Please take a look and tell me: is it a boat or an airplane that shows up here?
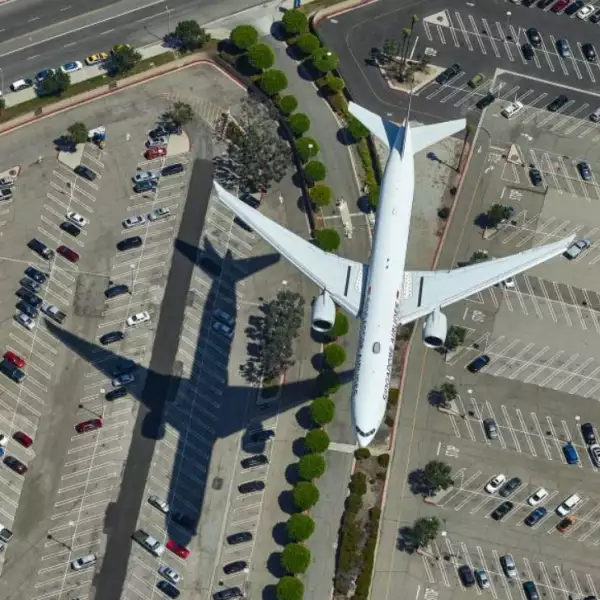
airplane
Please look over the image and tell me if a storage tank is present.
No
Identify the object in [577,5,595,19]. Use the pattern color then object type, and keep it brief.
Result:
white car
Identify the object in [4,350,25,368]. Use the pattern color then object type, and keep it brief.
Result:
red car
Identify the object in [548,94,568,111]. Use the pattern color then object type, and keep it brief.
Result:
black car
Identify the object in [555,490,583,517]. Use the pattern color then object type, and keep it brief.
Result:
white vehicle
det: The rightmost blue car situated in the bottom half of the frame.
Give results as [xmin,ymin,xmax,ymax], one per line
[562,442,579,465]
